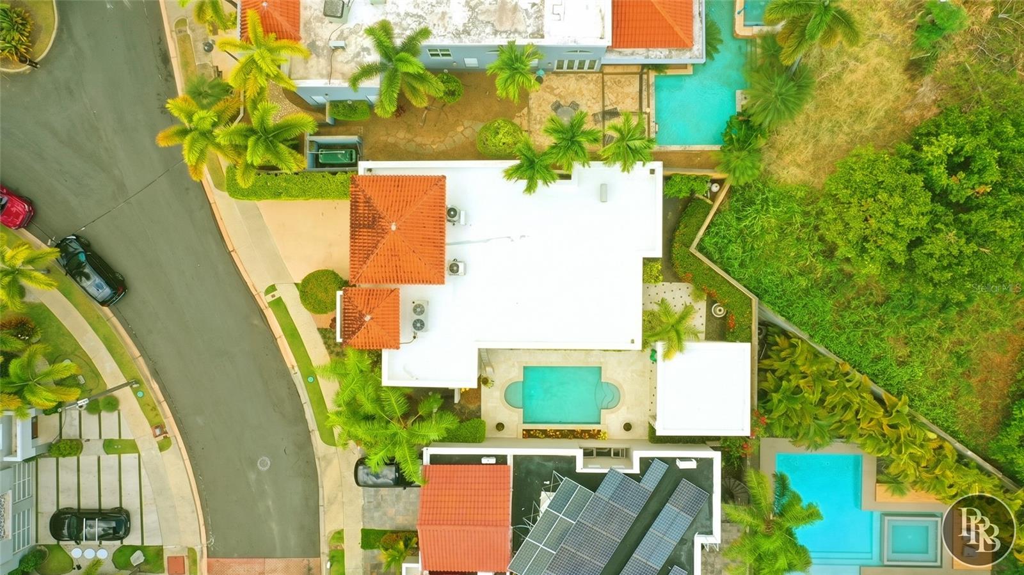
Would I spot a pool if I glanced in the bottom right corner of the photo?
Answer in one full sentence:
Yes, a pool can be seen in the bottom right corner of the photo.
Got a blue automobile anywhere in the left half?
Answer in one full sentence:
No, the scene shows no blue automobile in the left half.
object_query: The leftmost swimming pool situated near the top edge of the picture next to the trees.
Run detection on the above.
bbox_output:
[651,0,753,150]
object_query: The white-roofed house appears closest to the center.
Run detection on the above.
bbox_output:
[337,161,662,403]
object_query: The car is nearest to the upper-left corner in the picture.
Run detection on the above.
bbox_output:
[0,186,32,228]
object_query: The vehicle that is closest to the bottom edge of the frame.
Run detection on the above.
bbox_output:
[44,509,127,550]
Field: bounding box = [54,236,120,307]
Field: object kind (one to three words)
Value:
car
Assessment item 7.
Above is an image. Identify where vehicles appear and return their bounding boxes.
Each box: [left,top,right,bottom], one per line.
[0,186,32,228]
[350,457,421,497]
[44,509,127,550]
[54,236,120,307]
